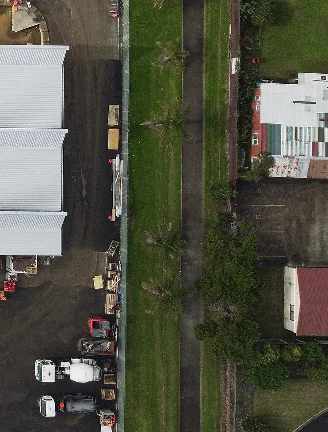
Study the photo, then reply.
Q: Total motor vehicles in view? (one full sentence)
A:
The picture shows 2 motor vehicles.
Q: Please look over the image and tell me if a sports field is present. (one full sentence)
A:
No, I find no sports field anywhere in the image.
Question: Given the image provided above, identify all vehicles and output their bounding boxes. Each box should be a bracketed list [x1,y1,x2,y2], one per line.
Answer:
[33,357,106,386]
[38,392,100,421]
